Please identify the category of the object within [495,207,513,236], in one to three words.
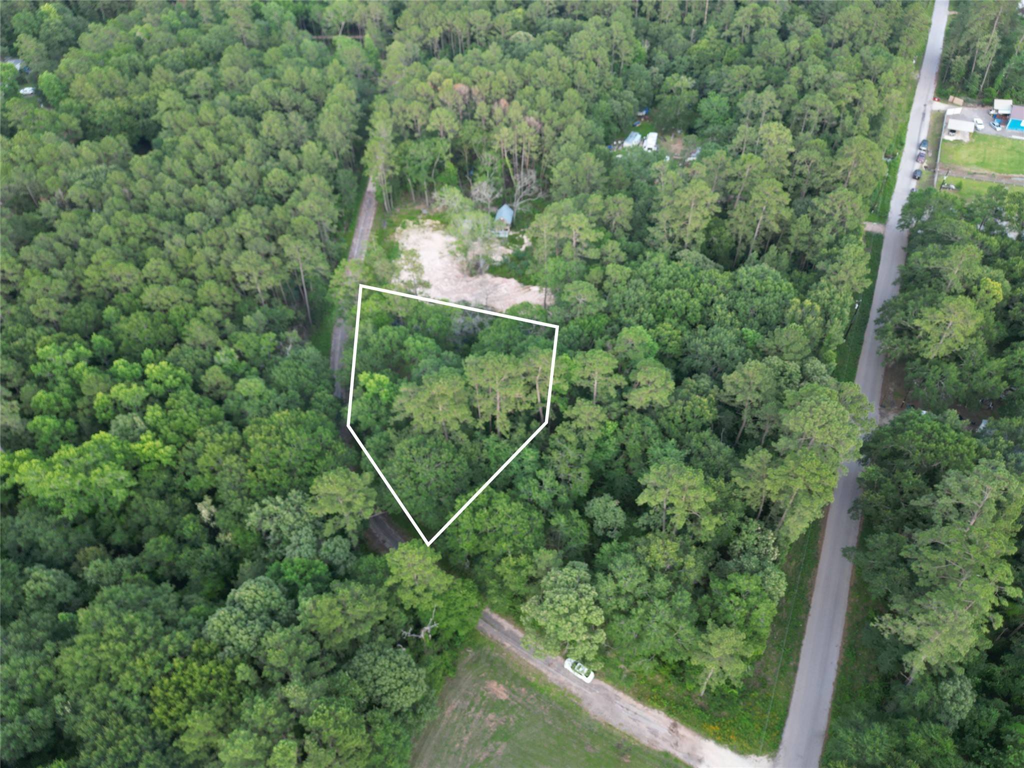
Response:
shed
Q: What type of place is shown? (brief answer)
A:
forest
